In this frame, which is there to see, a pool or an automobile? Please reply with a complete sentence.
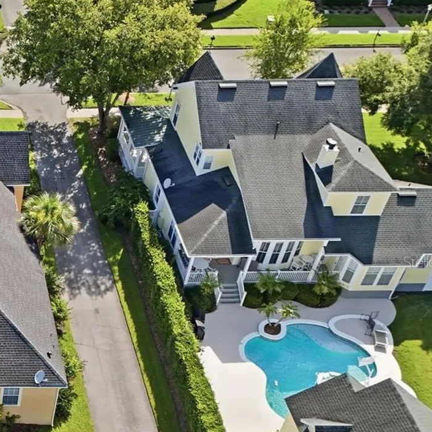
Of the two, only a pool appears.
